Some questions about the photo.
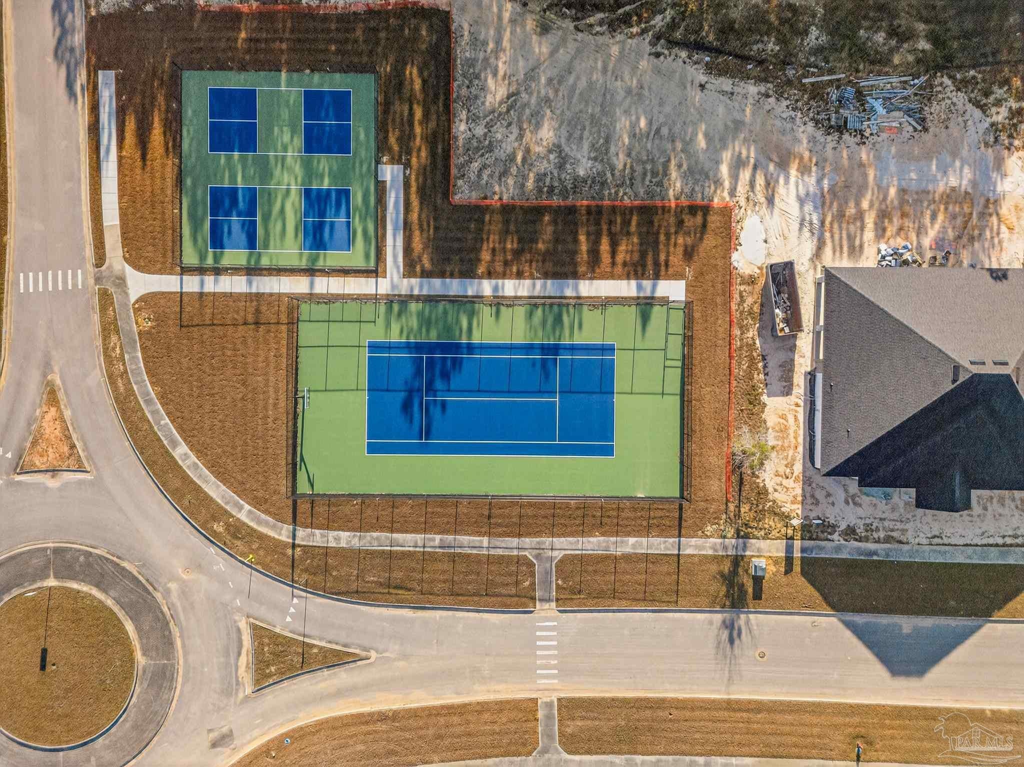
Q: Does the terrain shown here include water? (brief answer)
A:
No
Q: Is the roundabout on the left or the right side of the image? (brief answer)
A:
left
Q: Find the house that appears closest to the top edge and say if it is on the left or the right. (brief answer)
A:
right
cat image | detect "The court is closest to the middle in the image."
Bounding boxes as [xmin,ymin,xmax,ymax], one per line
[296,303,686,499]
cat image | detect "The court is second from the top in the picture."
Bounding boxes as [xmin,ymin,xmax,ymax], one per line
[181,170,376,267]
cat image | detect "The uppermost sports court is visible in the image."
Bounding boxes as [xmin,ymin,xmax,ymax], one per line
[181,71,378,170]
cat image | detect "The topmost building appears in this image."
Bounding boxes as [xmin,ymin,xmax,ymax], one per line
[807,267,1024,513]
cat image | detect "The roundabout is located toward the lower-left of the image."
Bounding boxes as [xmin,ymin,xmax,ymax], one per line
[0,539,180,767]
